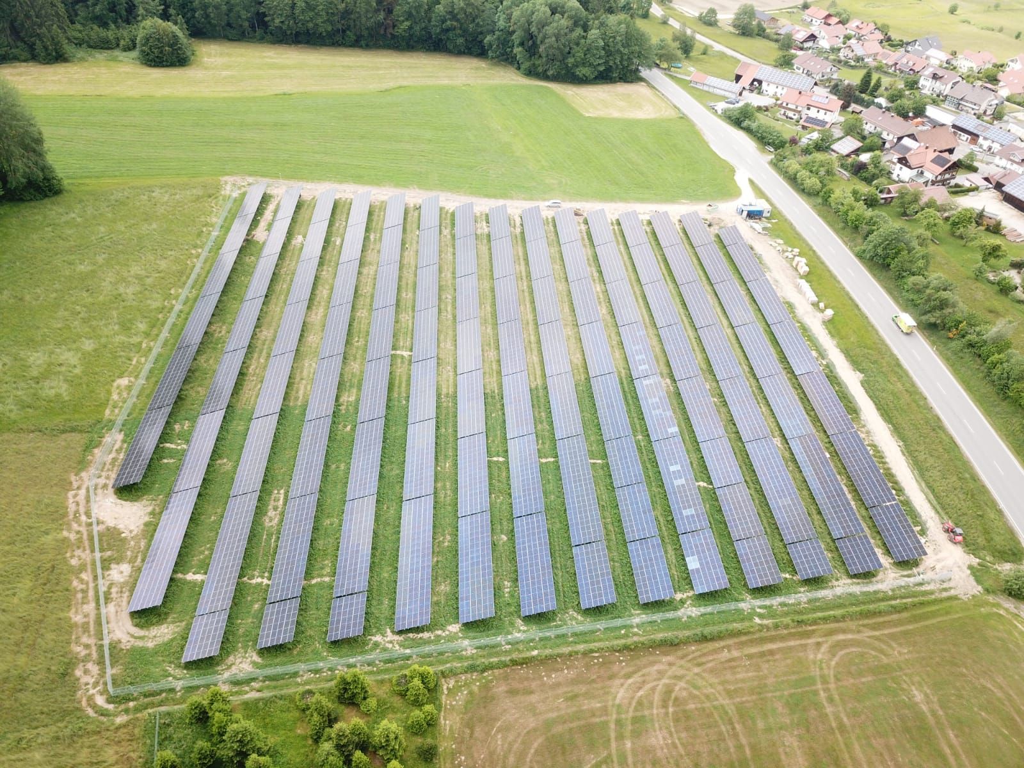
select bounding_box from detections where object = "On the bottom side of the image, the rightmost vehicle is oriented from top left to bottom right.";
[939,523,968,544]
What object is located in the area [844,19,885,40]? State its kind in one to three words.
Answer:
house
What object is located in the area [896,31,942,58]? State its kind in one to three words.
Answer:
house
